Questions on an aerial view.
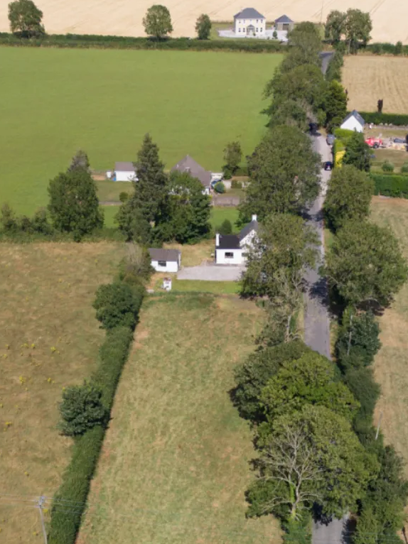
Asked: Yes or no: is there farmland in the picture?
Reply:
Yes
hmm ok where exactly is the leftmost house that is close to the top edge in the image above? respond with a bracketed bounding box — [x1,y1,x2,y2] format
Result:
[235,6,267,37]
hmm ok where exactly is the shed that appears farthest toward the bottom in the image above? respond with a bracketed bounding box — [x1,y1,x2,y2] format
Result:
[151,251,179,272]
